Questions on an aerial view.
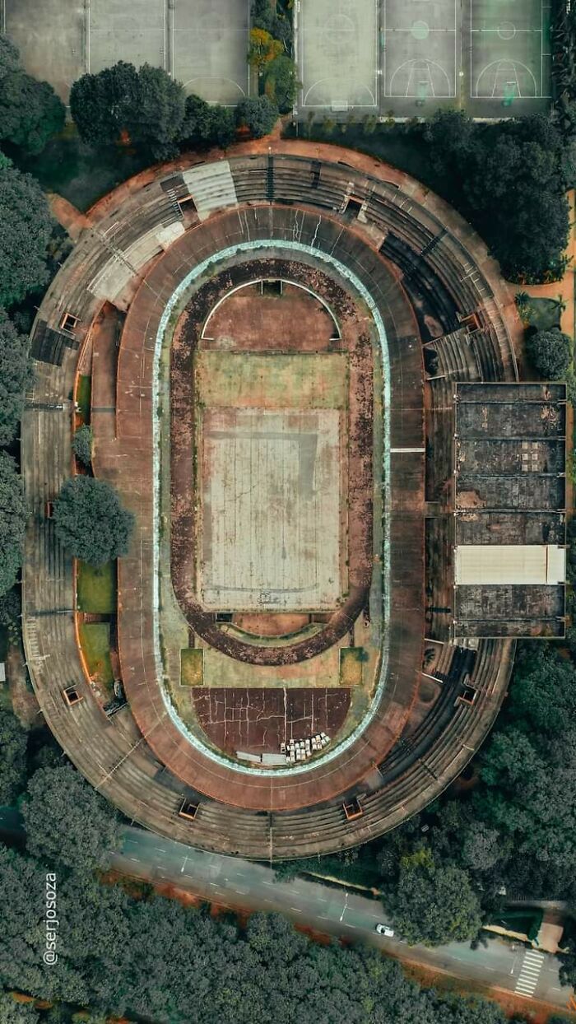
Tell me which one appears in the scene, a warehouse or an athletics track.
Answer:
athletics track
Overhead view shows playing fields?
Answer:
Yes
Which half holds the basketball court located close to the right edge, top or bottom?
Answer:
top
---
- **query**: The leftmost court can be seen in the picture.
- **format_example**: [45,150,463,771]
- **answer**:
[3,0,83,107]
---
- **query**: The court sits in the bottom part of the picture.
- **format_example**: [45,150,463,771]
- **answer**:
[192,688,351,757]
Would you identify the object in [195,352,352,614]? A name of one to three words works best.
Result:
sports field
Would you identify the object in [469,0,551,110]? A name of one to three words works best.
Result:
basketball court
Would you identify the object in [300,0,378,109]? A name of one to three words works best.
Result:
sports court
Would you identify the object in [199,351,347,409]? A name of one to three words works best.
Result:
sports field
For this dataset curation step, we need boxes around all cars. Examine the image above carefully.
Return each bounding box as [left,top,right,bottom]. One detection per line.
[375,924,393,936]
